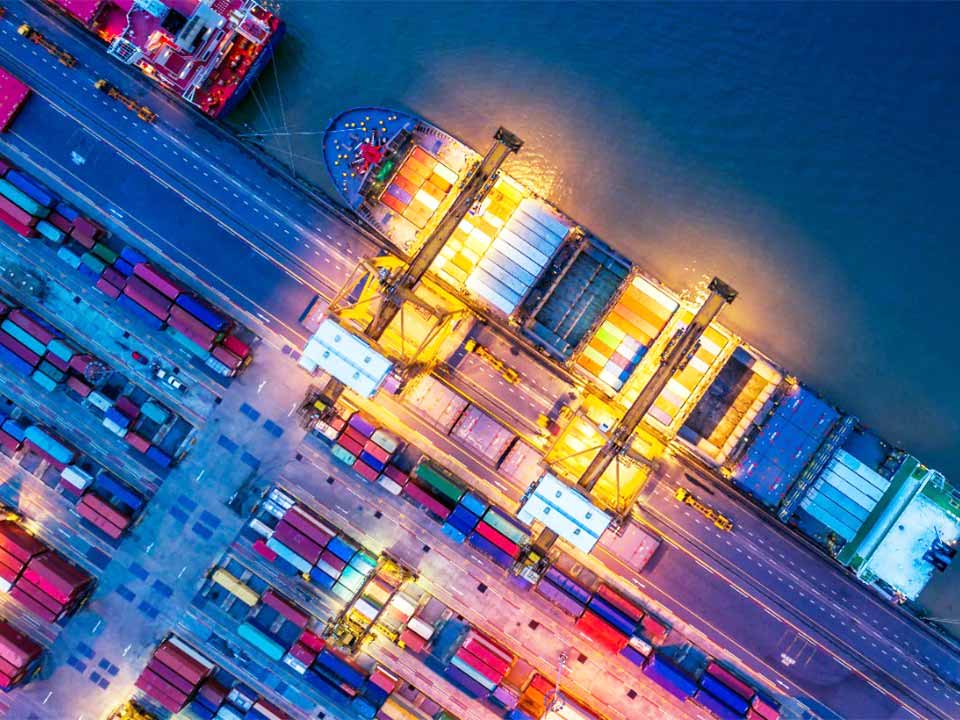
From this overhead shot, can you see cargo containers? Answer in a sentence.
Yes, the picture does show a cargo container.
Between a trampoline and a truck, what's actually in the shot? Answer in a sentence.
This aerial view contains a truck.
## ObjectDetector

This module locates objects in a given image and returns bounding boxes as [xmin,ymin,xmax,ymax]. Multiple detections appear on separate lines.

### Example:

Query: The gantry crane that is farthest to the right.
[499,268,742,591]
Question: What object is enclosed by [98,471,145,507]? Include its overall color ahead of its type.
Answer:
blue shipping container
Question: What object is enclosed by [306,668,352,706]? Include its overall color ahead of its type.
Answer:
blue shipping container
